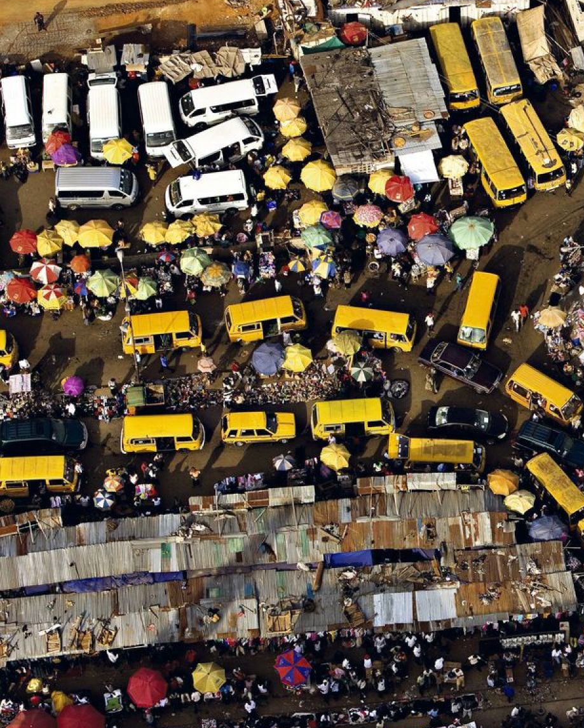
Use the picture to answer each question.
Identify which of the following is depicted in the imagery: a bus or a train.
bus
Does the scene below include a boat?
No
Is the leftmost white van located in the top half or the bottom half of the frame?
top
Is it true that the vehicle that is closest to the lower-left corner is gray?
No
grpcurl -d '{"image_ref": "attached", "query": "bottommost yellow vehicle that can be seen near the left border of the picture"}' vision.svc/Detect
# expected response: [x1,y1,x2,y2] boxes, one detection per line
[0,456,84,499]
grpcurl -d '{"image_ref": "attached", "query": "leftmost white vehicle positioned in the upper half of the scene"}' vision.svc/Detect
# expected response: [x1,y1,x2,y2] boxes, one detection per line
[0,74,40,160]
